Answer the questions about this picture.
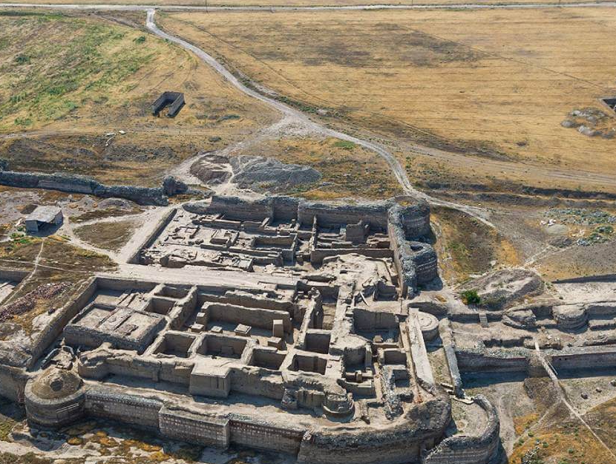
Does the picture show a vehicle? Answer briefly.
No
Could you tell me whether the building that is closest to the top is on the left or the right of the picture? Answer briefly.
left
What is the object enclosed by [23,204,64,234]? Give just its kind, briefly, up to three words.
shed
